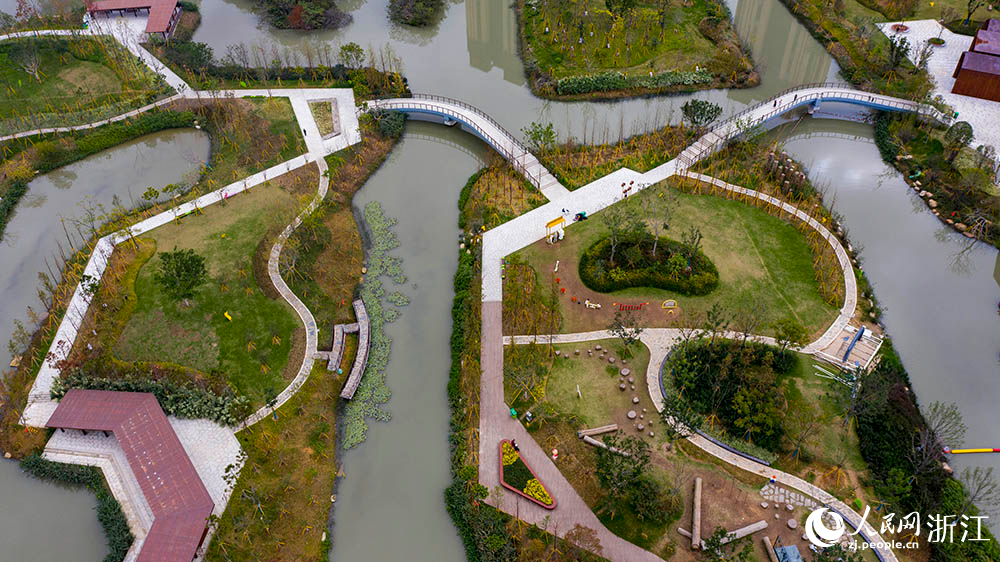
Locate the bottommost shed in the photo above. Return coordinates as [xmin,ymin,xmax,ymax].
[773,533,802,562]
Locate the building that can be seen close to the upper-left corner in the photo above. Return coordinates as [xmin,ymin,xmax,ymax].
[88,0,181,48]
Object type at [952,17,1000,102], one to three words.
building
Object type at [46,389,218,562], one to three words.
building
